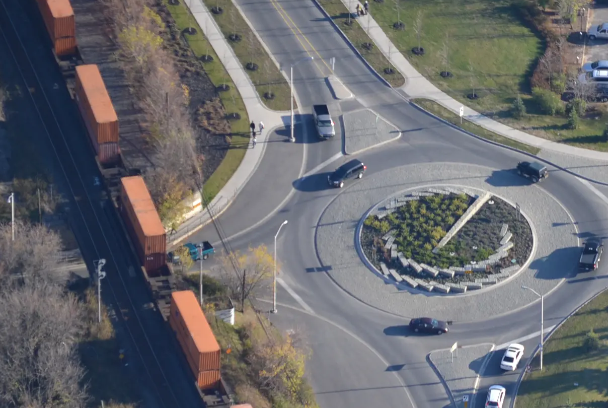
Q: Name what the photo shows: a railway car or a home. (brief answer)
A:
railway car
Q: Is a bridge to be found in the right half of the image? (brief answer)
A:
No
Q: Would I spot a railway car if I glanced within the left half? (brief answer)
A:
Yes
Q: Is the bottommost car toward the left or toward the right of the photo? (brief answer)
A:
right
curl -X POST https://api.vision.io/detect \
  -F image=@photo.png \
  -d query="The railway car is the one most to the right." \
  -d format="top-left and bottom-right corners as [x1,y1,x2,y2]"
[163,295,229,408]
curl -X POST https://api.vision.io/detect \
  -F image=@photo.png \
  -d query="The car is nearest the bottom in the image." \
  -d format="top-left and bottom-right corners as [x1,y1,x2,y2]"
[485,381,507,408]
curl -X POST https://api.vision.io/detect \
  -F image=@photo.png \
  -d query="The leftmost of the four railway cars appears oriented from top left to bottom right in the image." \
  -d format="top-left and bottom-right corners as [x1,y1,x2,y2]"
[32,0,82,85]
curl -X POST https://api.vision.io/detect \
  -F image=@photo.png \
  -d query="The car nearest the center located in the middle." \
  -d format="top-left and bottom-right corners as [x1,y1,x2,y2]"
[326,156,368,186]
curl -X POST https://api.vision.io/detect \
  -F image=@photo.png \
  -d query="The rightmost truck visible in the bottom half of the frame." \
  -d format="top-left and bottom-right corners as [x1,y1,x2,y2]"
[580,235,603,269]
